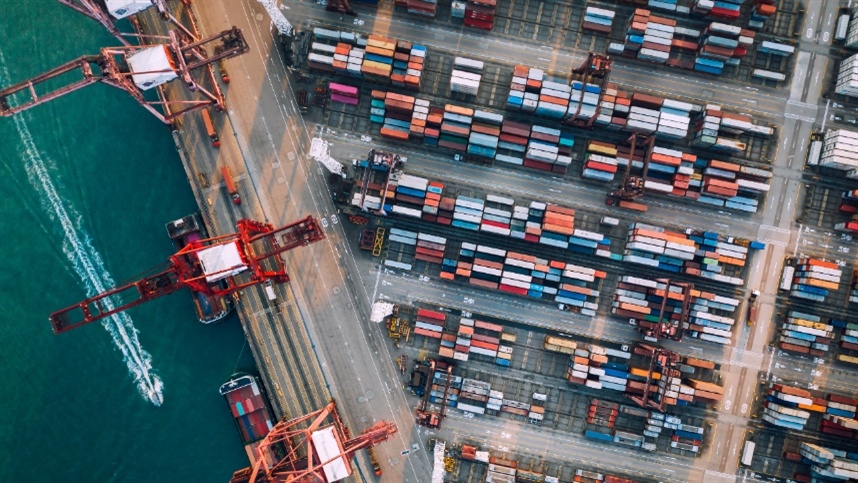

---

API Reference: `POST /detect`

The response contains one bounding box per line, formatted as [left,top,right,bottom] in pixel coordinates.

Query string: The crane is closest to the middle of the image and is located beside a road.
[357,147,401,216]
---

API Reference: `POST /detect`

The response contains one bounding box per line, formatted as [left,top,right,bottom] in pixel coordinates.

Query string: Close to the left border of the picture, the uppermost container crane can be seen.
[35,0,208,52]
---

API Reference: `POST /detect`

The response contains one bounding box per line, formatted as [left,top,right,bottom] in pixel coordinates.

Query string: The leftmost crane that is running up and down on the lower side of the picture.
[416,356,454,427]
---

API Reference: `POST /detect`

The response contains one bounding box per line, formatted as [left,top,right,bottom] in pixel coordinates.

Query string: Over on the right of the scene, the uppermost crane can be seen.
[566,52,612,127]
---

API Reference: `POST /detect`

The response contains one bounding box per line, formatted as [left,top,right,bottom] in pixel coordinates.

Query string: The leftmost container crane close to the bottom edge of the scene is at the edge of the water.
[200,391,398,483]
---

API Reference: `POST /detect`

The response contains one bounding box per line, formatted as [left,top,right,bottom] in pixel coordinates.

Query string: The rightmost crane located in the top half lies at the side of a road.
[608,132,657,199]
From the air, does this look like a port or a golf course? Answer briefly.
port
